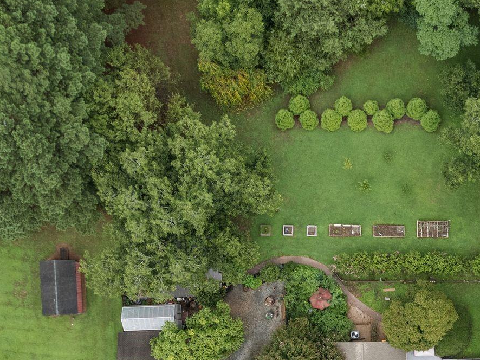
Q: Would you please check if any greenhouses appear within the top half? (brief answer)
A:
No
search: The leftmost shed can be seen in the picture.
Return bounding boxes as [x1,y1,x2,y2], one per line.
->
[39,248,83,316]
